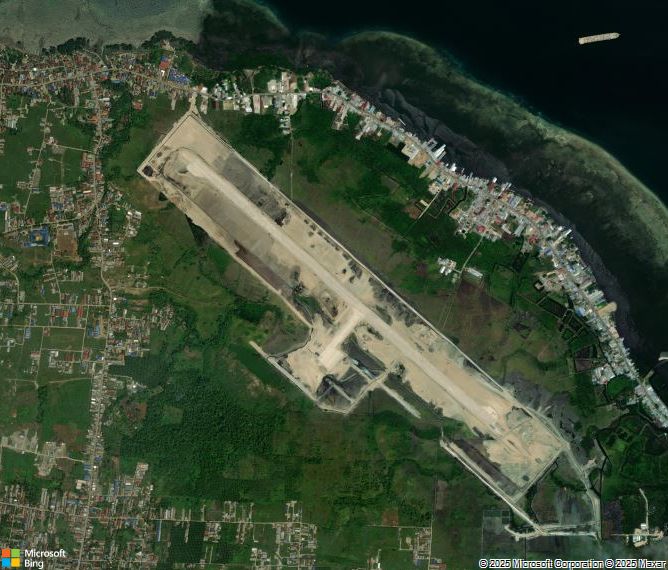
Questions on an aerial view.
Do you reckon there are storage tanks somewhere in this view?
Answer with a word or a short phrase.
No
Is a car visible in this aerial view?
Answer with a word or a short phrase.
No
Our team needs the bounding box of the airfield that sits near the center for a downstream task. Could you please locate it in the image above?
[138,113,568,500]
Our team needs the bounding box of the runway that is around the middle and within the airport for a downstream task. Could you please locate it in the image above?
[185,155,501,432]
